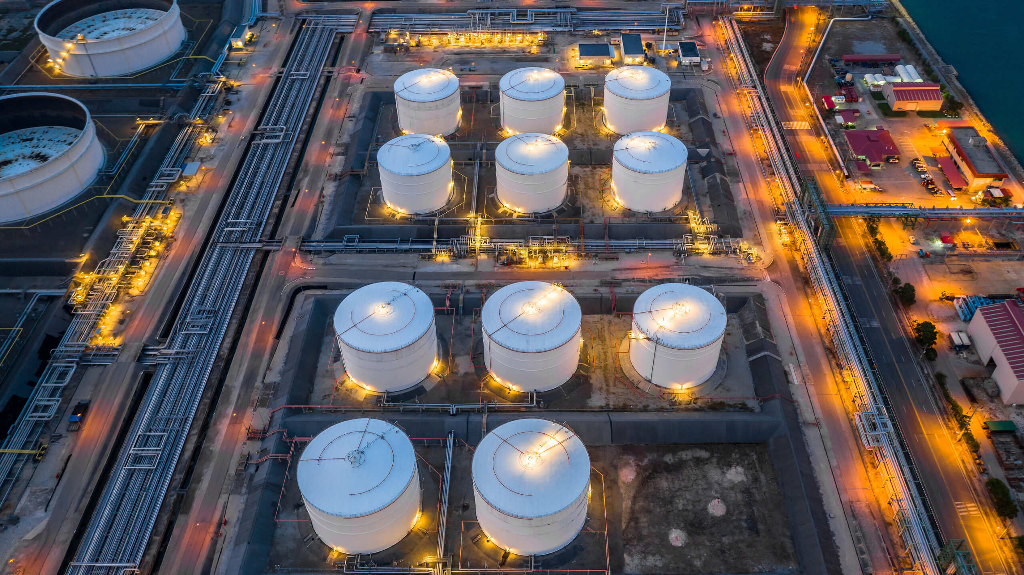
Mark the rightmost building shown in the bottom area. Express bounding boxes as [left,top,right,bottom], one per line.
[967,300,1024,405]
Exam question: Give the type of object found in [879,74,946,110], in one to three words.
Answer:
building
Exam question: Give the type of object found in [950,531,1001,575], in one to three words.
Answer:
bridge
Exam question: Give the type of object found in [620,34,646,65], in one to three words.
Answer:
building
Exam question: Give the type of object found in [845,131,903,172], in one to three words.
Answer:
house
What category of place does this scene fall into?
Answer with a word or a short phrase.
industrial area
